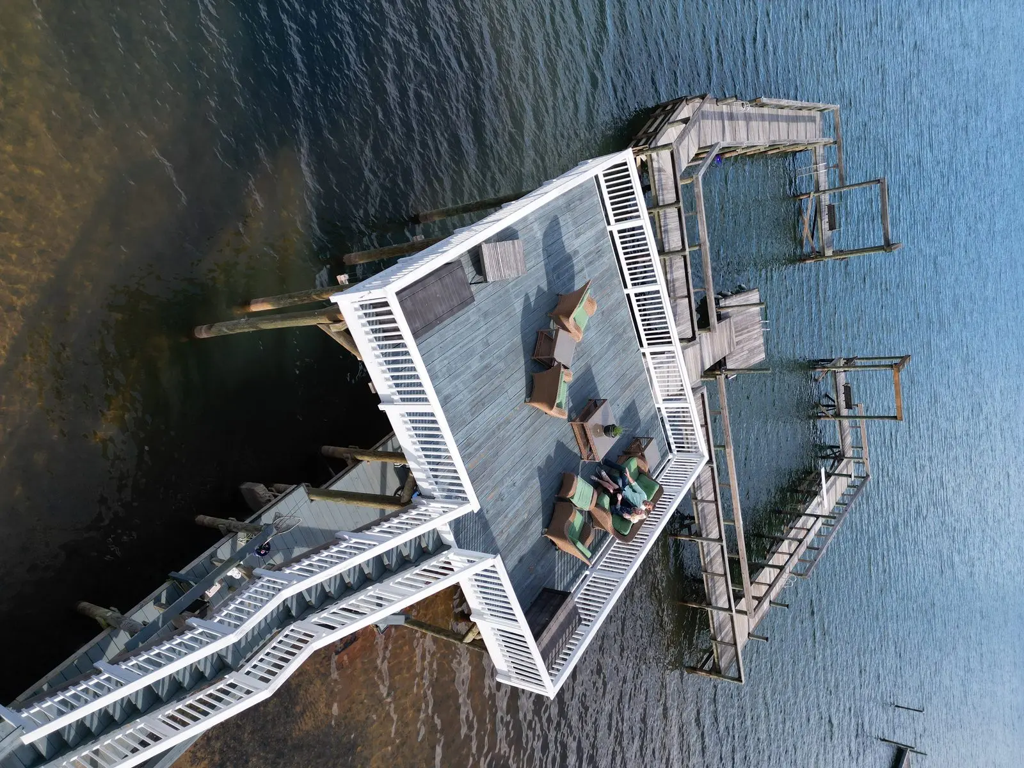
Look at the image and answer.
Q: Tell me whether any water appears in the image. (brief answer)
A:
Yes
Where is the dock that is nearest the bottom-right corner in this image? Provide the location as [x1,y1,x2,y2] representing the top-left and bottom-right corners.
[890,748,912,768]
